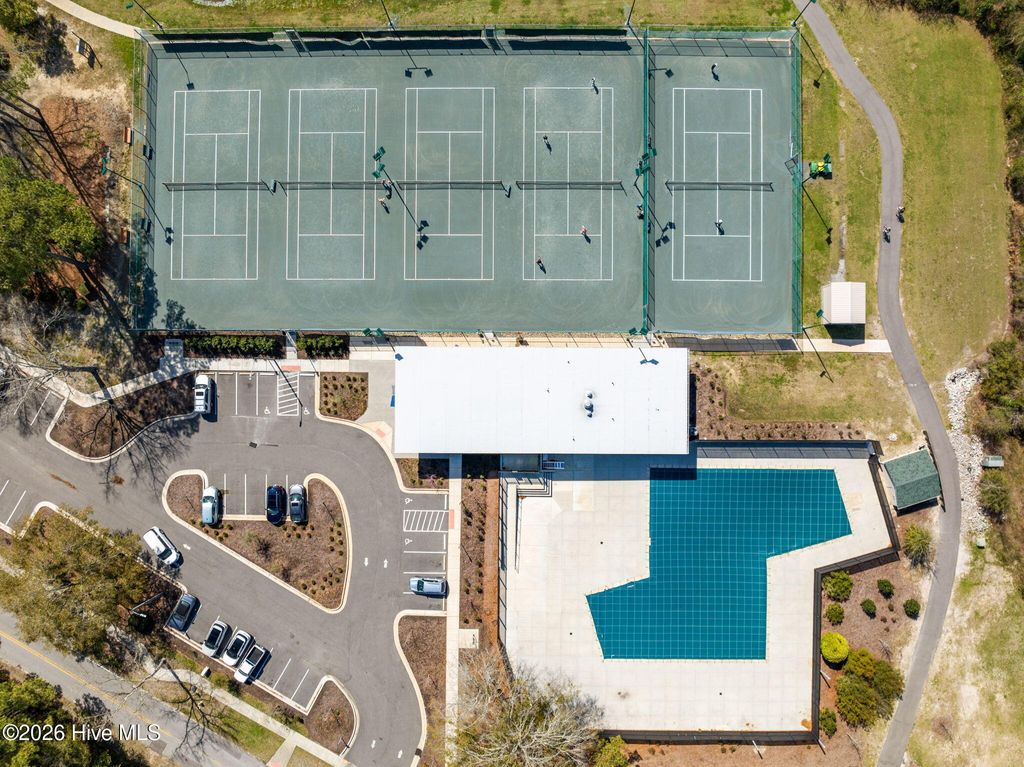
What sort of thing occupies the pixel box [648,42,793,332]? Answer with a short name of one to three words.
tennis court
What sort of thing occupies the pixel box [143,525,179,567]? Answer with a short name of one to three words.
car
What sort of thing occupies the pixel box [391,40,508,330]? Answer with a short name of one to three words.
tennis court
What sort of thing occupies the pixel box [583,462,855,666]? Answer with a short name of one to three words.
swimming pool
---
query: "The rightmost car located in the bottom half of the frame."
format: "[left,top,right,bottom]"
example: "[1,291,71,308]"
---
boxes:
[410,576,447,596]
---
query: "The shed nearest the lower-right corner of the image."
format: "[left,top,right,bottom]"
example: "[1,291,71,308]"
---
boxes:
[879,449,941,508]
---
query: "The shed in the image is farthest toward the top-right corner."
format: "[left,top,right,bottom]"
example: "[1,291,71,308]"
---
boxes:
[822,282,866,324]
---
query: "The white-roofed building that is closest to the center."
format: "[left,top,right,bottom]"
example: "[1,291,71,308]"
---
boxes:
[394,347,689,454]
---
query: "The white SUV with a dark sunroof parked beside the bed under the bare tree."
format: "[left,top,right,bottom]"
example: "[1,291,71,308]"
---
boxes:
[193,373,215,413]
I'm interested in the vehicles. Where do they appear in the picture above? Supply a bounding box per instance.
[236,641,269,685]
[410,576,447,596]
[168,591,200,632]
[143,525,179,567]
[287,484,307,524]
[266,484,286,523]
[200,485,222,525]
[222,626,253,667]
[193,373,215,413]
[201,617,231,657]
